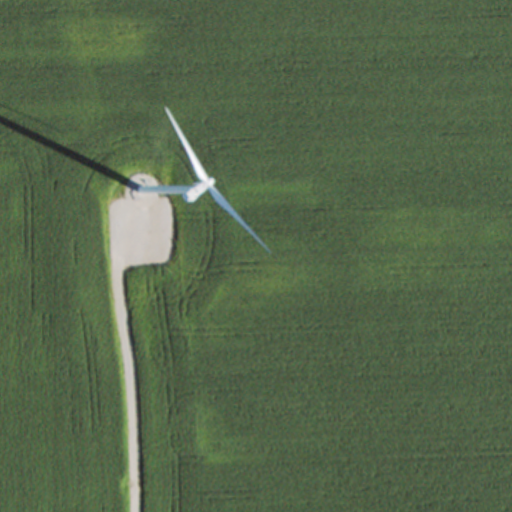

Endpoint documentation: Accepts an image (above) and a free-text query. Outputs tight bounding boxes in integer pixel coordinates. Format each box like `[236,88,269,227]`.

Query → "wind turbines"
[138,106,270,252]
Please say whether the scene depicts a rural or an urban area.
rural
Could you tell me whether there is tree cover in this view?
No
